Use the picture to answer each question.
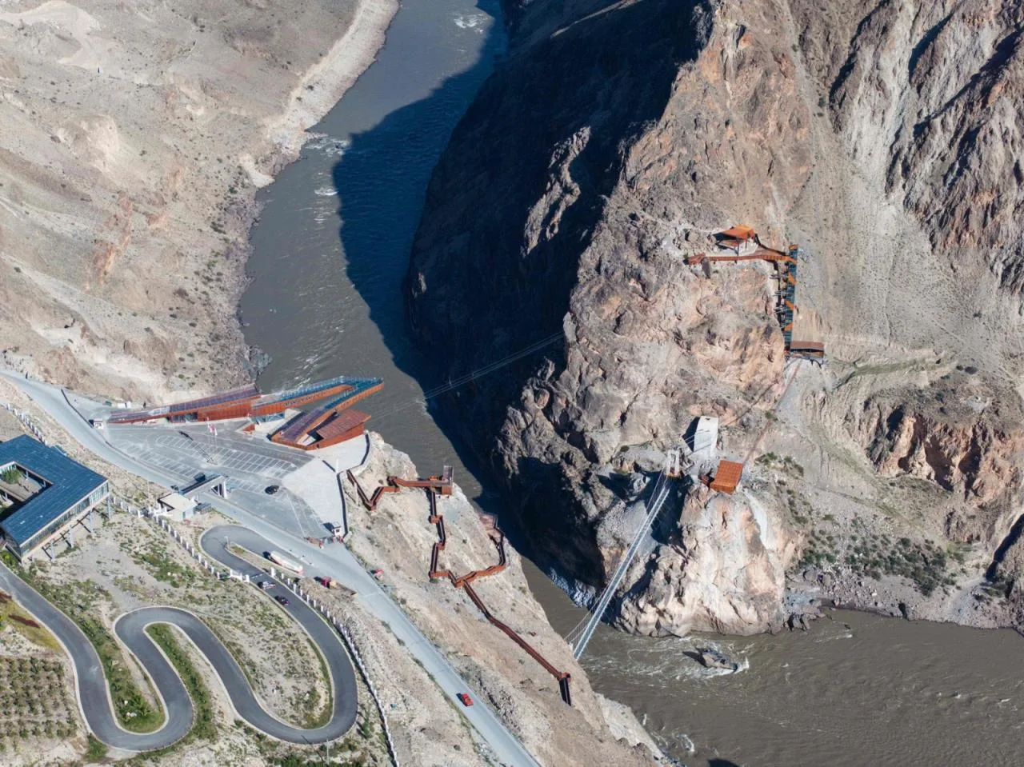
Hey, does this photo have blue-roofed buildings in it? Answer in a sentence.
Yes, you can see a blue-roofed building in this photo.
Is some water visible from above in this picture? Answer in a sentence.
Yes, there's water in this view.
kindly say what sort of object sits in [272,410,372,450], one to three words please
building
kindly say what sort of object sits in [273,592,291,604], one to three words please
vehicle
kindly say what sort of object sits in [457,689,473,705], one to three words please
car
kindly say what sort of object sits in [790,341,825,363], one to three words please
shed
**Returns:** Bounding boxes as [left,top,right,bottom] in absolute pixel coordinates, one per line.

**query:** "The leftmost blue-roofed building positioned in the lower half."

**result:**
[0,434,110,567]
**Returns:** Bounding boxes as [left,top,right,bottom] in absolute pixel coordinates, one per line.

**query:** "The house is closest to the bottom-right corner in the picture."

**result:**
[703,461,743,493]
